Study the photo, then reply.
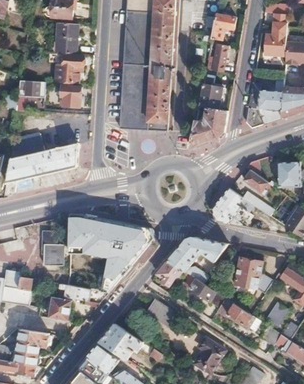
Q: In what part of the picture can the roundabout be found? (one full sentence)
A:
The roundabout sits in the center section of the image.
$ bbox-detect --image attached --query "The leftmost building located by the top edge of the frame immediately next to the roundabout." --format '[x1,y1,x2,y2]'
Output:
[120,0,150,130]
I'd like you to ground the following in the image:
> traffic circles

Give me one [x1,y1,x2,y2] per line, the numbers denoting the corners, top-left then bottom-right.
[128,156,224,226]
